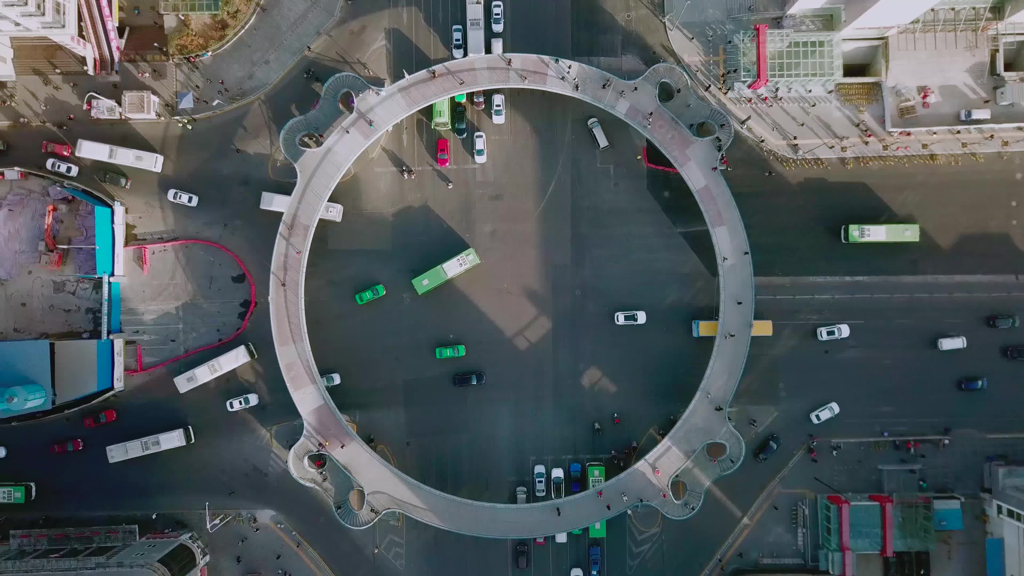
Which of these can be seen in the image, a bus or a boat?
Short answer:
bus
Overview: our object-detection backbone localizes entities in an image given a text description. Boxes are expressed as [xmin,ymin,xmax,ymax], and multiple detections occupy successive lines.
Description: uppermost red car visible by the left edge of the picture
[42,140,74,156]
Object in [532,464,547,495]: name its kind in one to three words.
car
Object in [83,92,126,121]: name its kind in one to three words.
building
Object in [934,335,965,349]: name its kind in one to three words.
vehicle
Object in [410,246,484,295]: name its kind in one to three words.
bus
